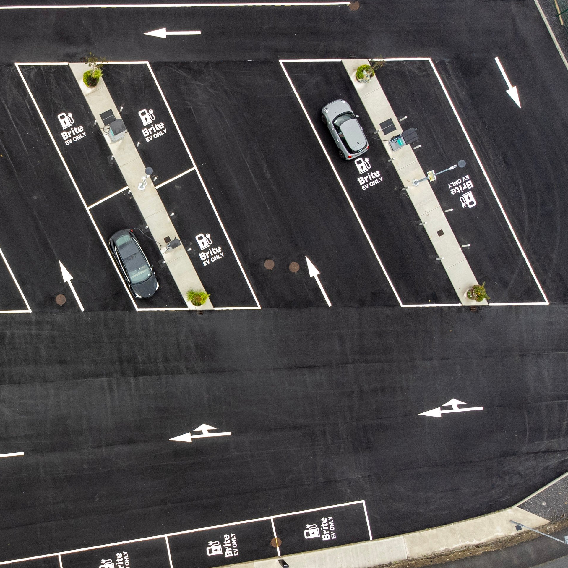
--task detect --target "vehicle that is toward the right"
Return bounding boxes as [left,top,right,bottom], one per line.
[321,98,371,160]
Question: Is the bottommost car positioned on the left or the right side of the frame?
left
